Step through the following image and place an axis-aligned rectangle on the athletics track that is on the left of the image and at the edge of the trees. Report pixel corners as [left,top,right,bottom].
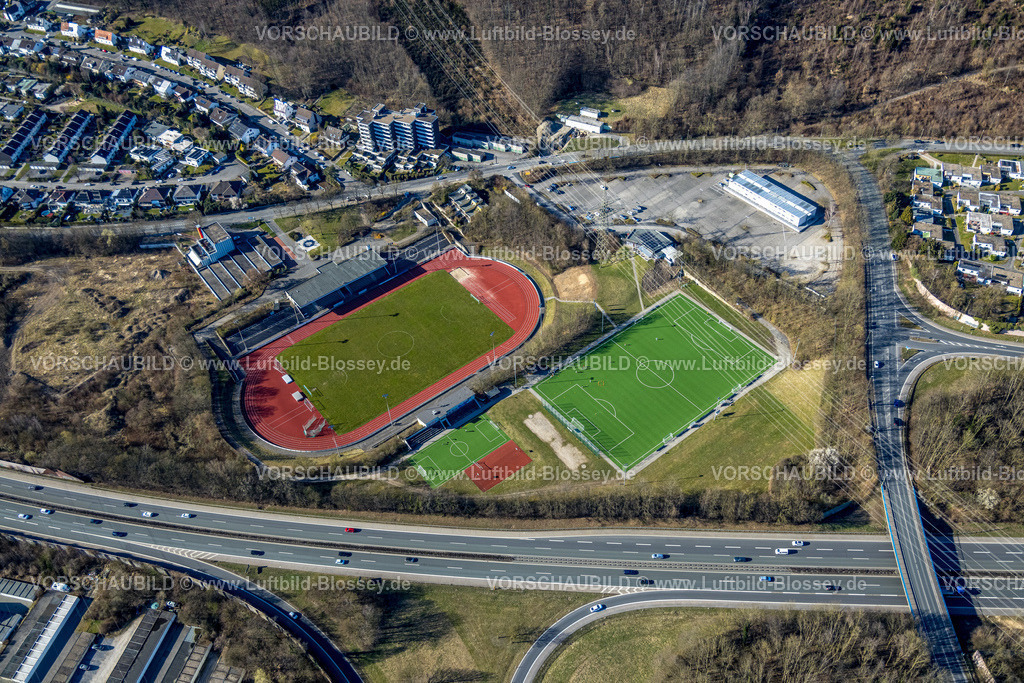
[235,247,540,450]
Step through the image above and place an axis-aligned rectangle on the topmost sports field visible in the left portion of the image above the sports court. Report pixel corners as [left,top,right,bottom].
[273,266,516,434]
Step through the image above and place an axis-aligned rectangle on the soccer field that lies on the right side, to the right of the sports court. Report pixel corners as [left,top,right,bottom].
[522,287,790,483]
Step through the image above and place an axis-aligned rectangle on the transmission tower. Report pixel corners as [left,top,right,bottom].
[590,195,630,271]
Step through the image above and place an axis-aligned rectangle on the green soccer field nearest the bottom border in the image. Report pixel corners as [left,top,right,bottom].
[411,416,509,487]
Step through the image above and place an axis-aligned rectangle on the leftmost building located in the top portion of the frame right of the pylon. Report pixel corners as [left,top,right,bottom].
[626,230,683,263]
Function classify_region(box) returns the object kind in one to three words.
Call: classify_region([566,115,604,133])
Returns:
shed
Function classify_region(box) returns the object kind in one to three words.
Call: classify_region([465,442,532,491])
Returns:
sports court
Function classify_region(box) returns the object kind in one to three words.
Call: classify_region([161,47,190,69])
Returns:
building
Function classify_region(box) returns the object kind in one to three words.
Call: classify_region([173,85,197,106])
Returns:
house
